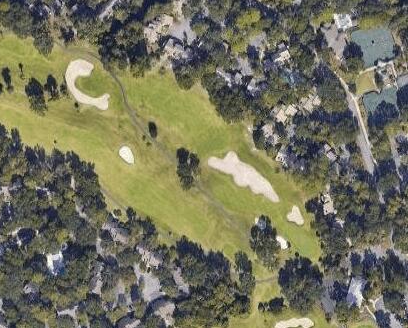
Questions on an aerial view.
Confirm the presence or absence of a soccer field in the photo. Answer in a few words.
No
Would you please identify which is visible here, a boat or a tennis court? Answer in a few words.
tennis court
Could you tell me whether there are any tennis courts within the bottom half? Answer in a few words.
No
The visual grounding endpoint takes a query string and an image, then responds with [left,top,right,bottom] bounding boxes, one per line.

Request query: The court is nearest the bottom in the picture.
[360,84,400,121]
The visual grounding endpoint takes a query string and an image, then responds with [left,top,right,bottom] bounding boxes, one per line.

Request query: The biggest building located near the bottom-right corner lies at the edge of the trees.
[343,275,368,308]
